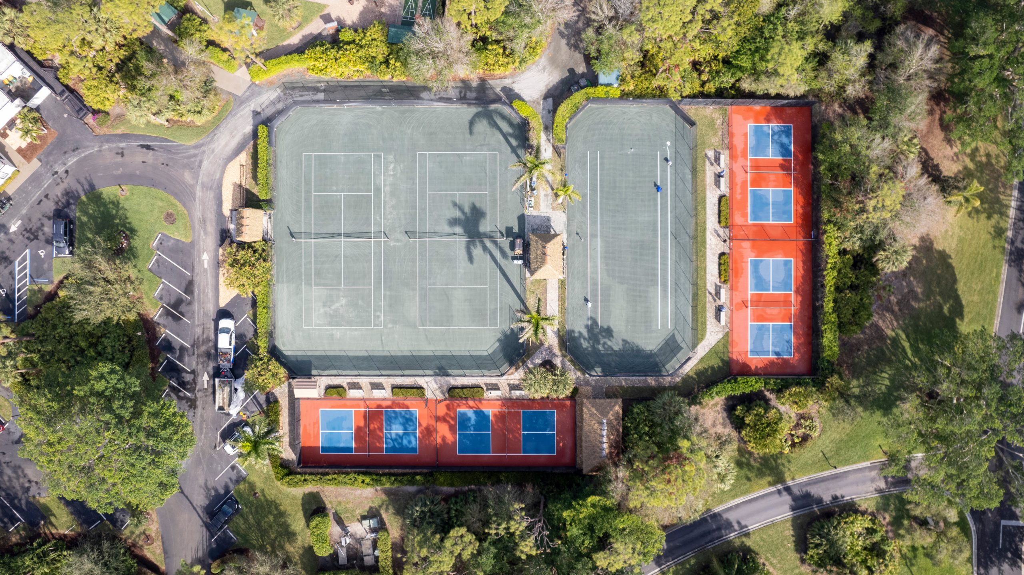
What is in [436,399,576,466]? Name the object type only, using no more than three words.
sports court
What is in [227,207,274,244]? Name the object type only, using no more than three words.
shed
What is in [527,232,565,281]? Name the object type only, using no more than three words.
shed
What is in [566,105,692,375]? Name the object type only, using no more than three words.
tennis court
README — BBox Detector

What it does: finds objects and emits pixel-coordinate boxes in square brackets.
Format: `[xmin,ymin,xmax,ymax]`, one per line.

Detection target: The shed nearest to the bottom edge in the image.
[581,397,624,476]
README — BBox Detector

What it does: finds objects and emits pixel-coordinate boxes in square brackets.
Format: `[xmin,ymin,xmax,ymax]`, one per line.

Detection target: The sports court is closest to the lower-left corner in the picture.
[300,399,436,466]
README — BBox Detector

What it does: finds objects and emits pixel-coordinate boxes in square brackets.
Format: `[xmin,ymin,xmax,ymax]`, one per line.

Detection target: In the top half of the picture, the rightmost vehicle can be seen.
[570,74,594,93]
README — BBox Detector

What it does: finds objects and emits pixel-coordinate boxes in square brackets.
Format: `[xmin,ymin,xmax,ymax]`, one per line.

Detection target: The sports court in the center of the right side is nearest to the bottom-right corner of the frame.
[730,240,812,375]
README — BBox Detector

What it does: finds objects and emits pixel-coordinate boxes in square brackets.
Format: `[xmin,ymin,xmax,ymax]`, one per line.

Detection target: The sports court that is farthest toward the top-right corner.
[730,106,812,240]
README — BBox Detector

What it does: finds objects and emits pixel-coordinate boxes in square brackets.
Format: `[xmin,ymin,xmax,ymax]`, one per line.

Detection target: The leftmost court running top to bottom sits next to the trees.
[275,106,400,375]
